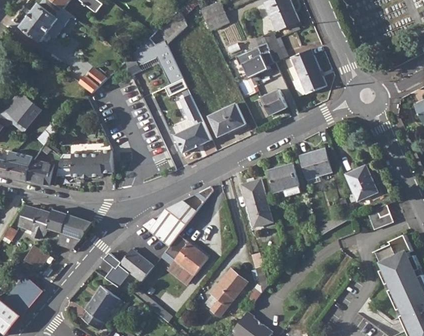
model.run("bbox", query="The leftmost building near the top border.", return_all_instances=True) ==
[18,2,56,41]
